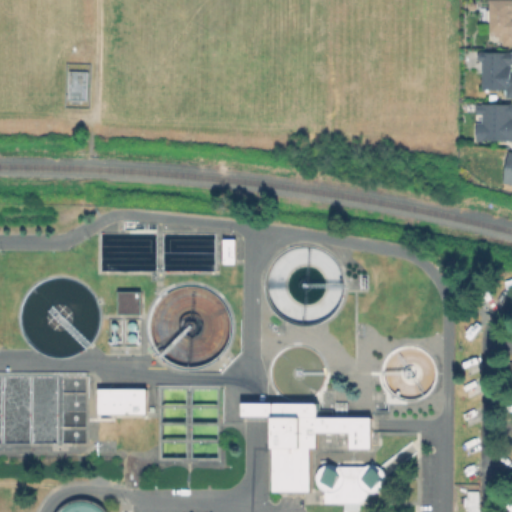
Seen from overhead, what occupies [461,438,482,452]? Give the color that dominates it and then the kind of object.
white vehicle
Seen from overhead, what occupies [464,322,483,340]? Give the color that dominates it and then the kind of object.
white camper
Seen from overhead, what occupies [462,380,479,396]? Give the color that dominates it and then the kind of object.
white camper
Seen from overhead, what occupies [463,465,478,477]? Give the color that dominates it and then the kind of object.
white vehicle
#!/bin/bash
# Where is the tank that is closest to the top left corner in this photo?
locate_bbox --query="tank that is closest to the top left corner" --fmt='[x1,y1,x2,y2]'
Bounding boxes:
[100,232,158,273]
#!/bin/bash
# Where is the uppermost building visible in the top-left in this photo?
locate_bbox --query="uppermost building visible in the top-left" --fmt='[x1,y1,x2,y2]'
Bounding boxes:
[70,72,89,102]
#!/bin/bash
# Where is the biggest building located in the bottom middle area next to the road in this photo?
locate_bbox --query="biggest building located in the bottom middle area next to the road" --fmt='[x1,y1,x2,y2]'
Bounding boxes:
[240,403,372,494]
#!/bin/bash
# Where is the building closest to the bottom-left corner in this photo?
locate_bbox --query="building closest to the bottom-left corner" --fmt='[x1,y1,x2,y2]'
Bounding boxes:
[90,388,146,422]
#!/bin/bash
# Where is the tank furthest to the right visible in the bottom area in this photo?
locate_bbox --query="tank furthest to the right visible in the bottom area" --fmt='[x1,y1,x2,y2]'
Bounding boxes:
[372,346,438,404]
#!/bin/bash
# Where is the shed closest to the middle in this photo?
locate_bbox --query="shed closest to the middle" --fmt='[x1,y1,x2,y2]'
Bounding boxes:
[222,239,236,266]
